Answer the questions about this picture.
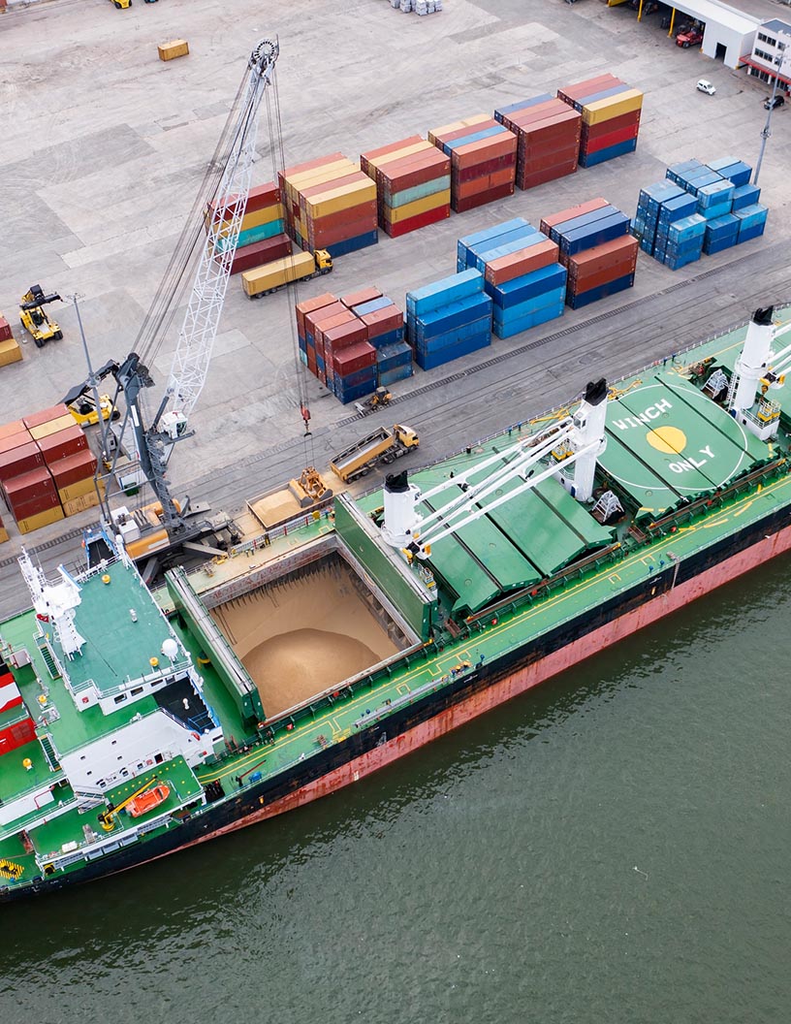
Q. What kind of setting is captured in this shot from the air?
port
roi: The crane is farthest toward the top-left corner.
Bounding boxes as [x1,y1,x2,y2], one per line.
[86,34,313,588]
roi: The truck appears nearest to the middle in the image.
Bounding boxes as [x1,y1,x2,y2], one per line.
[330,426,421,483]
